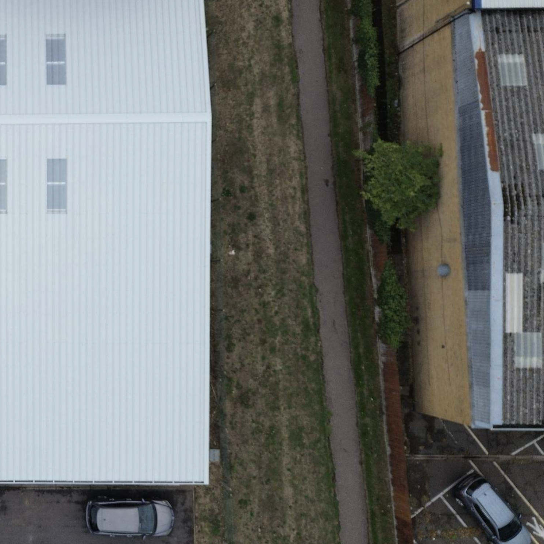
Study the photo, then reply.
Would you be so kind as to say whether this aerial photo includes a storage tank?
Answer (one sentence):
No, I can see no storage tank in this picture.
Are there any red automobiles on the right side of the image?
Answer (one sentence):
No, looking on the right side of the image, there is no red automobile.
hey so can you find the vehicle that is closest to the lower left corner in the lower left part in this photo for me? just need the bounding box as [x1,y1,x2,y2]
[84,496,174,544]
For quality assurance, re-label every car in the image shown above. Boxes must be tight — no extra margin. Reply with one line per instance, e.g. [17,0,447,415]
[451,465,531,544]
[84,496,174,544]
